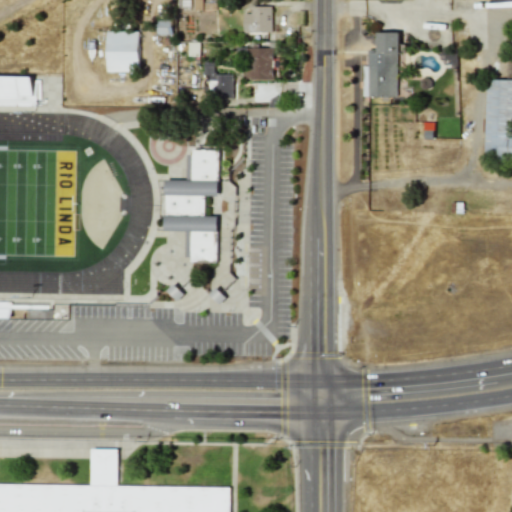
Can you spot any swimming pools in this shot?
Yes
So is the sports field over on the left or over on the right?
left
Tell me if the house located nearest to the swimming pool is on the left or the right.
right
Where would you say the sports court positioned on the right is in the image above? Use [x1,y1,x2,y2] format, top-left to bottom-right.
[438,117,460,138]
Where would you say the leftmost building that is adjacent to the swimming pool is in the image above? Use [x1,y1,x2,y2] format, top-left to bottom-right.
[364,32,400,97]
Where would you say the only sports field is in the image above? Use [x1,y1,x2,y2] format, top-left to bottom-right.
[0,136,130,272]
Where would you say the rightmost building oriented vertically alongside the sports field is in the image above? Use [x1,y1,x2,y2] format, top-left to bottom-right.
[162,150,219,262]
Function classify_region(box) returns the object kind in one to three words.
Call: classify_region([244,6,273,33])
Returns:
house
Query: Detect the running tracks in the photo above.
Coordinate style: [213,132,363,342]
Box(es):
[0,113,153,294]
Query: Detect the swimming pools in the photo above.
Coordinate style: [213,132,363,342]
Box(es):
[404,51,447,81]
